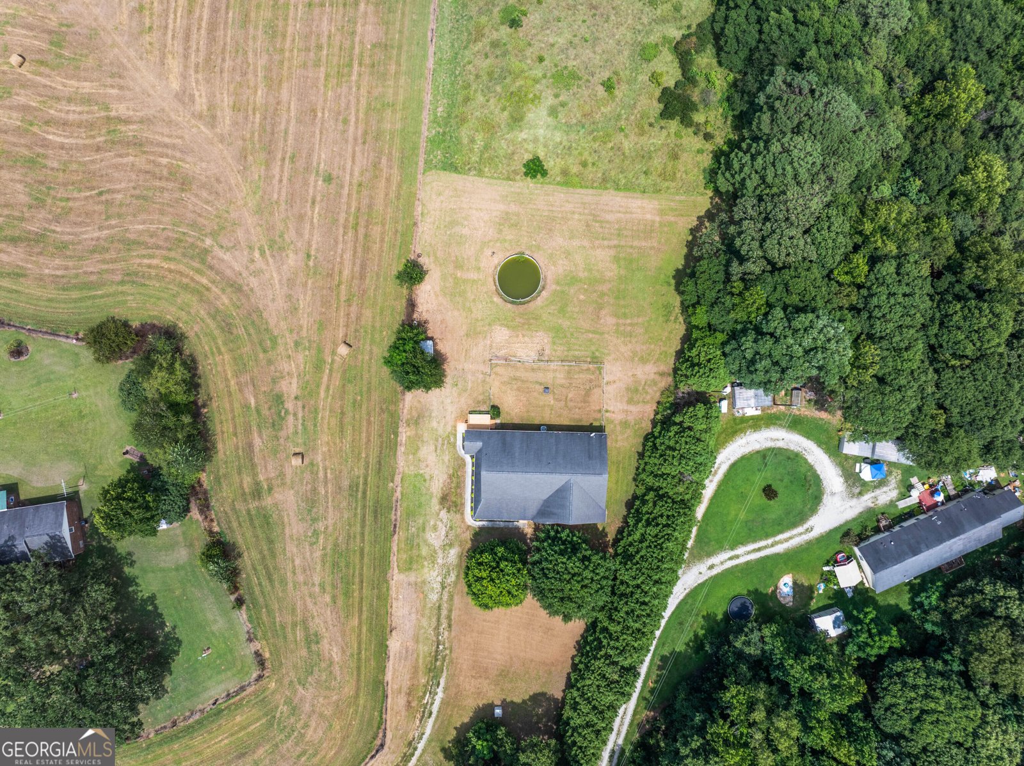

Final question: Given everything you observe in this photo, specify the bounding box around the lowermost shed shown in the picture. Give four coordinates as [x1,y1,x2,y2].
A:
[809,607,848,639]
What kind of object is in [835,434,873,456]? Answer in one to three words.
shed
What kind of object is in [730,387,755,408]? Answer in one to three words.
shed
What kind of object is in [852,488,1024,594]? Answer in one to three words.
house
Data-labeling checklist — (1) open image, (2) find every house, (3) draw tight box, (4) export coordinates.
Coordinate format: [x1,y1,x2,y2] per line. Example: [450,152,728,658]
[0,501,86,570]
[464,429,609,526]
[852,488,1024,594]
